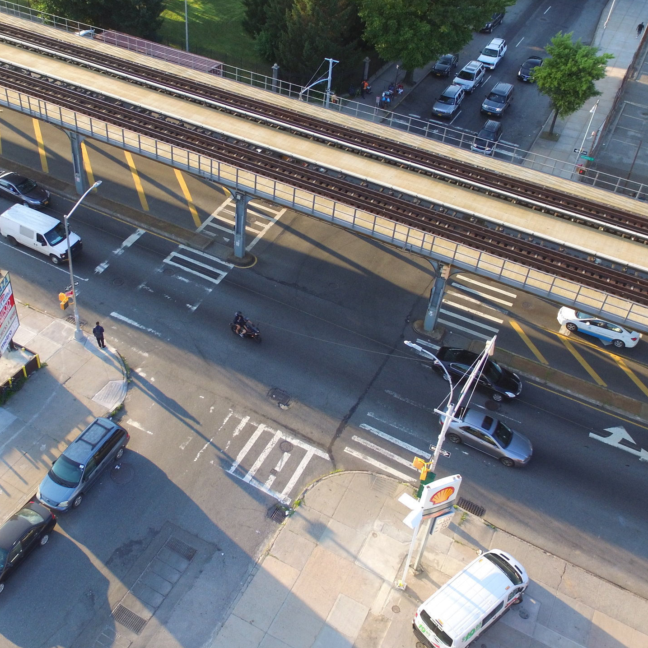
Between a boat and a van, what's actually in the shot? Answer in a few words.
van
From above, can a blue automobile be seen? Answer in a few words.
Yes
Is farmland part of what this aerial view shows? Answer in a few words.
No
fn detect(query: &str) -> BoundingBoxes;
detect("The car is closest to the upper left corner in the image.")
[0,170,51,208]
